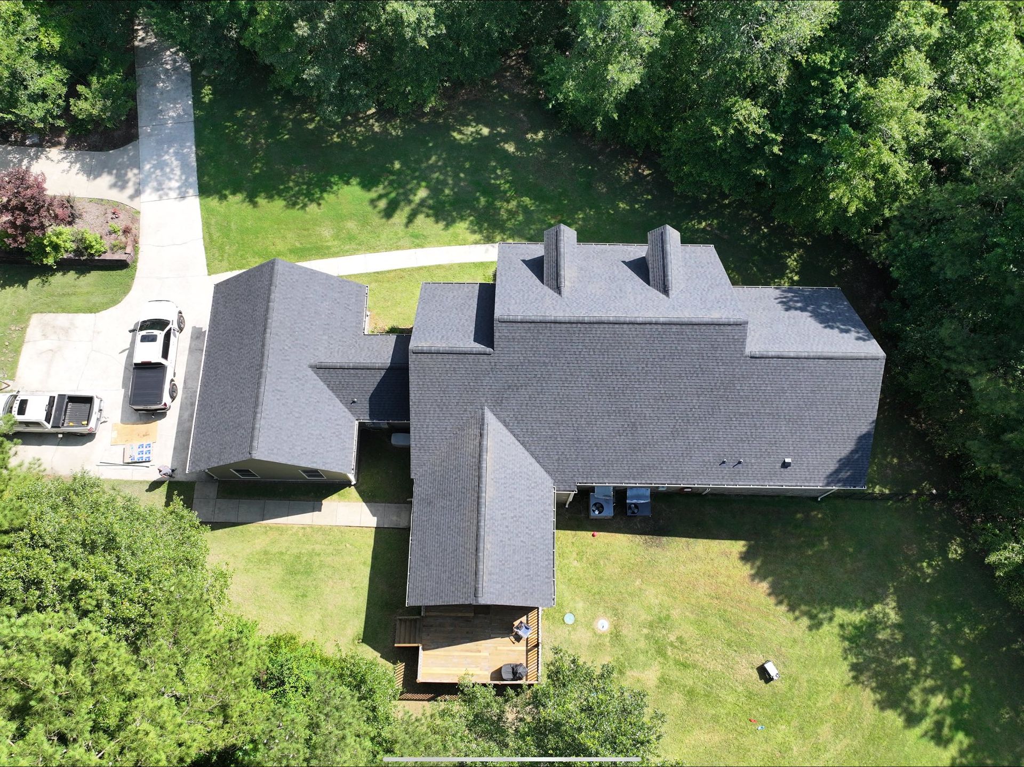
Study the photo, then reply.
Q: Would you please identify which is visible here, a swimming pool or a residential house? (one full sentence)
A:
I can see a residential house in this picture.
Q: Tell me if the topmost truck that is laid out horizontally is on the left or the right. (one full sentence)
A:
The topmost truck that is laid out horizontally is on the left side of the image.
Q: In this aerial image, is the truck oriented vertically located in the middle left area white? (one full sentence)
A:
Yes, the truck oriented vertically located in the middle left area is white.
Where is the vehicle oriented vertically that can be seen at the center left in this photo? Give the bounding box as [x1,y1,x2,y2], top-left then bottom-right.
[127,299,185,415]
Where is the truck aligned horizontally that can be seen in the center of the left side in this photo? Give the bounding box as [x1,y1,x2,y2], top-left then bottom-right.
[0,379,109,432]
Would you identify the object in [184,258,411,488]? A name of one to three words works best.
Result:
building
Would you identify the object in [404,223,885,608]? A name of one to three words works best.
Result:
house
